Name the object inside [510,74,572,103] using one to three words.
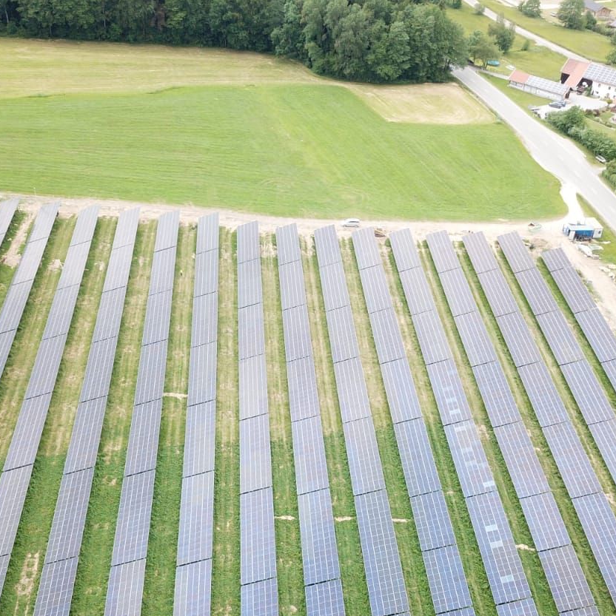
shed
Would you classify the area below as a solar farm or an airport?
solar farm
